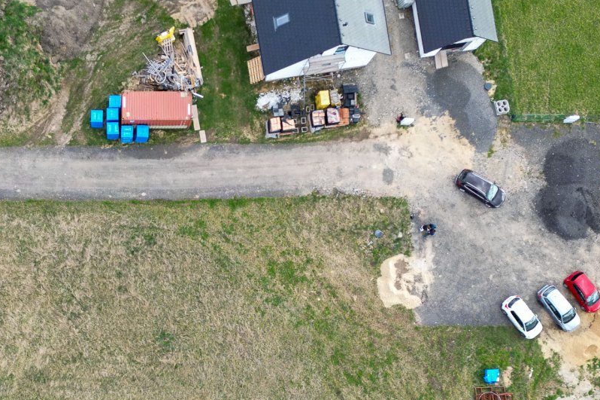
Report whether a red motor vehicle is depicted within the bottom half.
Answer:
Yes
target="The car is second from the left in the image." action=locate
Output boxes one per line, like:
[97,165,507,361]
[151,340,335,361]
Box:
[501,294,542,340]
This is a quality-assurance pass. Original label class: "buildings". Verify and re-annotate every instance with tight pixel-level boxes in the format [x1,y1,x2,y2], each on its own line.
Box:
[409,0,499,59]
[247,0,392,84]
